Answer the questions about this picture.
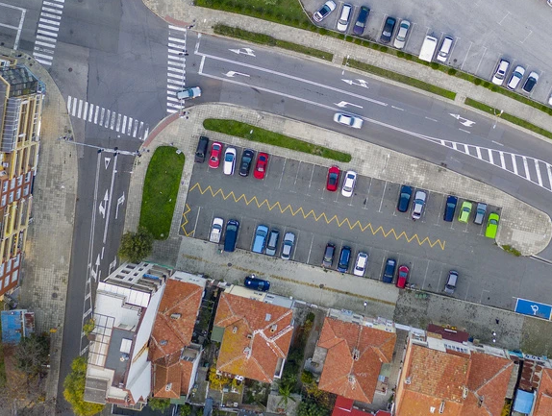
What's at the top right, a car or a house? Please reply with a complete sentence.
You can see a car at the top right.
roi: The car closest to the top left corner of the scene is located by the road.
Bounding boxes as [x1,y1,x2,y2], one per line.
[175,85,204,100]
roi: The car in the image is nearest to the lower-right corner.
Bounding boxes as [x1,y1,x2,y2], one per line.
[445,269,457,293]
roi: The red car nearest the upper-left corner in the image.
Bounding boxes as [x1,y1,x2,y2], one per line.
[207,140,223,168]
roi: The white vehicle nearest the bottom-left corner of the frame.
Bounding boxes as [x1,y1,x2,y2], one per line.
[210,216,224,242]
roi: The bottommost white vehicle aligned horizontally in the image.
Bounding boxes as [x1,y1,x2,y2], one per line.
[333,113,363,127]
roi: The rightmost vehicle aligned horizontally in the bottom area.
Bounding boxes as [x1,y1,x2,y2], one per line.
[242,275,271,291]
